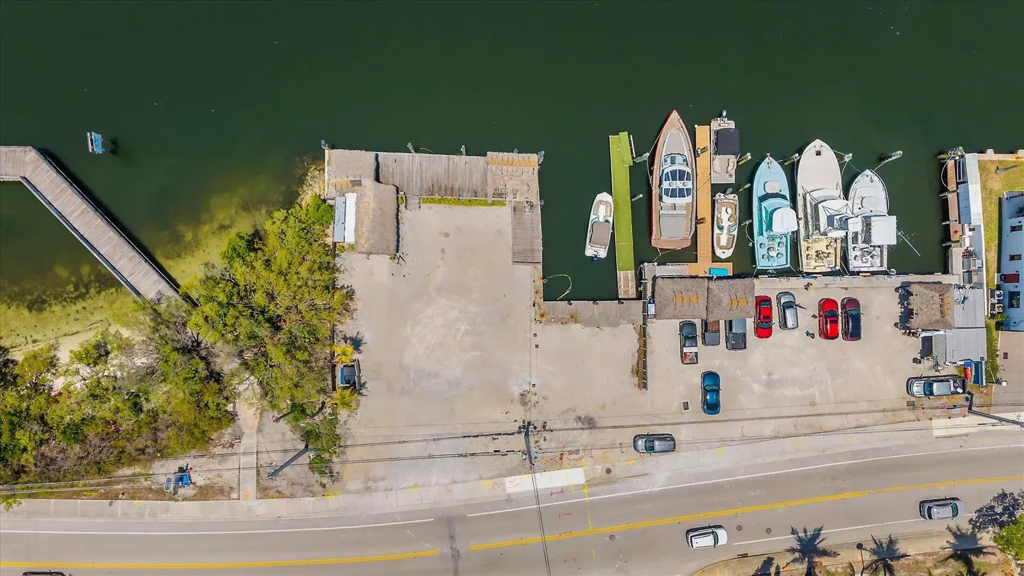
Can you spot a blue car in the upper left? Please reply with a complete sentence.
No, I see no blue car in the upper left.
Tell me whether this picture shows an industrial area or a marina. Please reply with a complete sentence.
The area seen from above is a marina.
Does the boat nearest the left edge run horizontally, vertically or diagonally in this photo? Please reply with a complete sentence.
Seen from above, the boat nearest the left edge lies vertically.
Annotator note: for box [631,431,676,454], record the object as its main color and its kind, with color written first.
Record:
gray car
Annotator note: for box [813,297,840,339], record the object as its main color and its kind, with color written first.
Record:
red car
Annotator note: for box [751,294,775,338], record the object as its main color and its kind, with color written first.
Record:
red car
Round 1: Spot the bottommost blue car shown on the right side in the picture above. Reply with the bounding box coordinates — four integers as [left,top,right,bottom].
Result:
[699,370,722,415]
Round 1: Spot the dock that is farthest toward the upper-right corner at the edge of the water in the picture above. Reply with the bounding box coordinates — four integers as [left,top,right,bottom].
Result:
[941,158,960,246]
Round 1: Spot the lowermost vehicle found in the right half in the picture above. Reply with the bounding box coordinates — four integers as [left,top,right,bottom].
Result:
[683,522,727,548]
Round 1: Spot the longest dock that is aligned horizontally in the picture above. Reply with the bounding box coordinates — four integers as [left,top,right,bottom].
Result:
[324,148,541,200]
